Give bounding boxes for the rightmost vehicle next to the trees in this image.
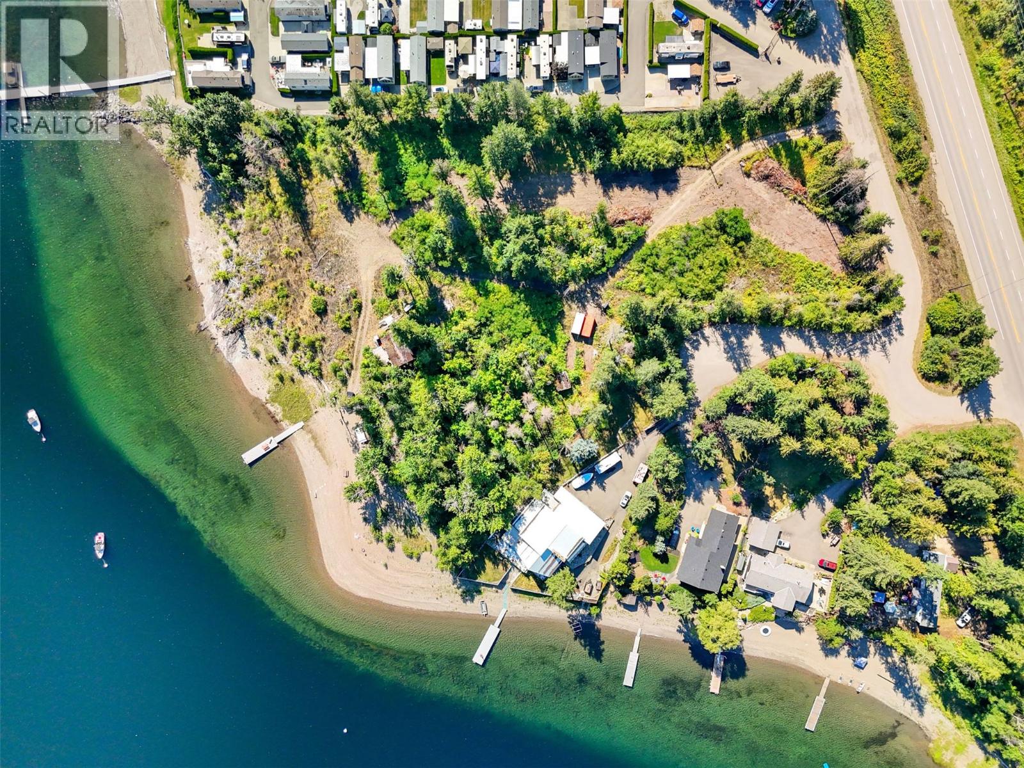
[954,610,973,629]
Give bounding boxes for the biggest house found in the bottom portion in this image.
[484,484,610,577]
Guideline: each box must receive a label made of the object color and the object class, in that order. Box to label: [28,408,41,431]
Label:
white boat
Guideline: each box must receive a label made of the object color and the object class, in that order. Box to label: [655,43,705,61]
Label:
white trailer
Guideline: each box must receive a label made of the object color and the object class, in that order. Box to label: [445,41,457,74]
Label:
white vehicle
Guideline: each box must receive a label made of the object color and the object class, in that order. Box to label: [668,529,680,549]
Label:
blue vehicle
